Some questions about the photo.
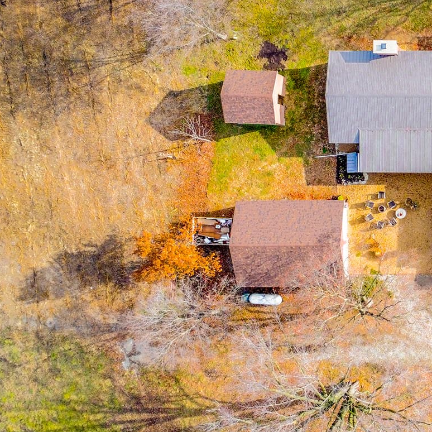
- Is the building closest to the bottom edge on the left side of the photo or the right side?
right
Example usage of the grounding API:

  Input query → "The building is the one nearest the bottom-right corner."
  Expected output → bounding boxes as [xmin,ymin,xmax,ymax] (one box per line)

[228,200,347,287]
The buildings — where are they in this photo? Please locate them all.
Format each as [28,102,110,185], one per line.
[228,200,347,287]
[221,72,283,124]
[325,41,432,174]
